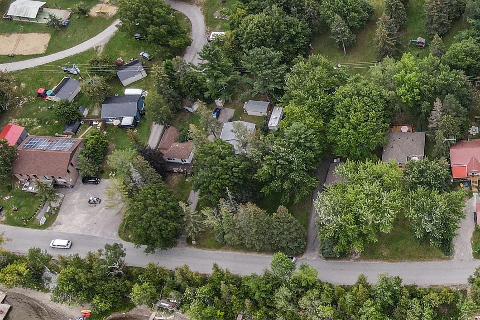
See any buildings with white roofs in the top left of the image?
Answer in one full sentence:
Yes, the scene does show a building with a white roof in the top left of the image.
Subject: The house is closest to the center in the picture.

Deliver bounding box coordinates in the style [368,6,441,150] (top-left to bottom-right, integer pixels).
[220,121,258,153]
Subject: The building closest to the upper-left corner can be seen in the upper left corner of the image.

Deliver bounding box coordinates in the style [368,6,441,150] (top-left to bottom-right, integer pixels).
[3,0,72,24]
